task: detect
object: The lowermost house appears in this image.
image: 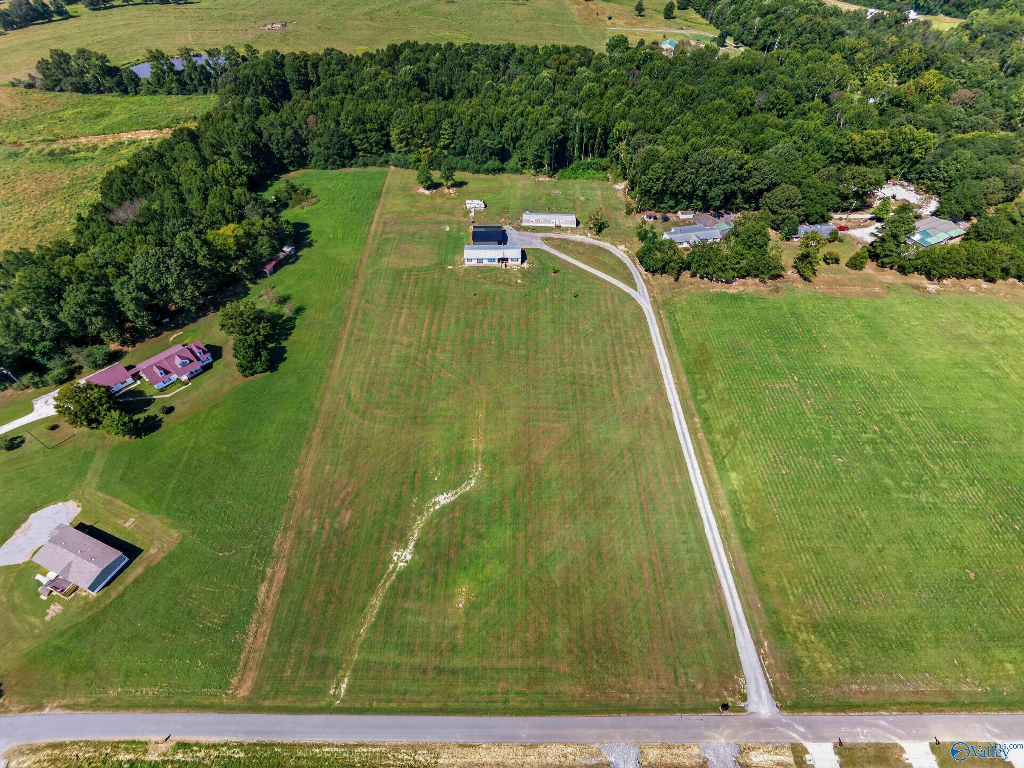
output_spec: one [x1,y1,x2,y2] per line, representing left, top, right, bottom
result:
[31,524,127,601]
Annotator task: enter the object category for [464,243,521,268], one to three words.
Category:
house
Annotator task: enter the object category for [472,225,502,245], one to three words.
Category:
building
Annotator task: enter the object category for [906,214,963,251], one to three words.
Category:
house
